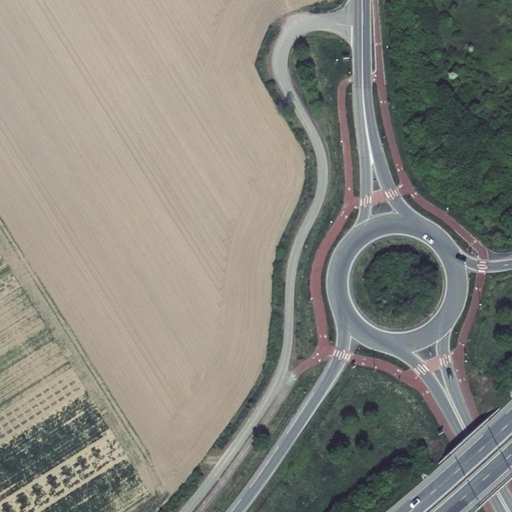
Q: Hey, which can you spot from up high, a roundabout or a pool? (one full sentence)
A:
This aerial view contains a roundabout.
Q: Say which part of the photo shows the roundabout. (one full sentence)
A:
The roundabout appears toward the right of the photo.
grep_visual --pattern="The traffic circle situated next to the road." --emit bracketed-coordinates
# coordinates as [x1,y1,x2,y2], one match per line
[326,196,468,368]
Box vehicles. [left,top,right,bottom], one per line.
[423,234,434,243]
[455,254,466,260]
[446,368,453,379]
[410,496,420,506]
